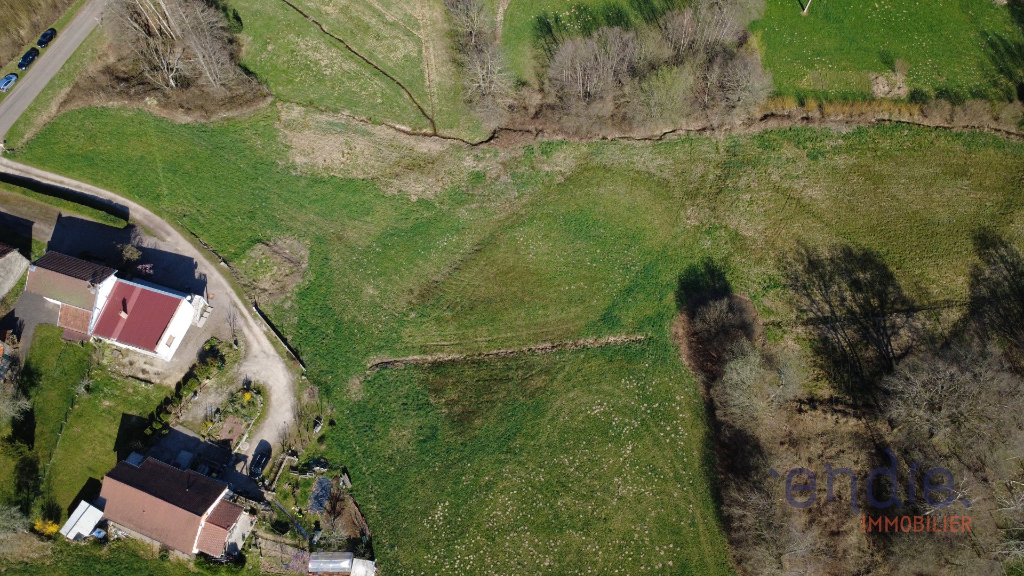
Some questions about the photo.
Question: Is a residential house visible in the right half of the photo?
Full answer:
No, looking in the right half of the photo, there is no residential house.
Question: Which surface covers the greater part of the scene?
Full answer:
The bulk of the photo consists of grass.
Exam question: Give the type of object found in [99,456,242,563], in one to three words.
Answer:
house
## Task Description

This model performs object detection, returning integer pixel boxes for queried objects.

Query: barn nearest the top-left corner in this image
[0,241,30,300]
